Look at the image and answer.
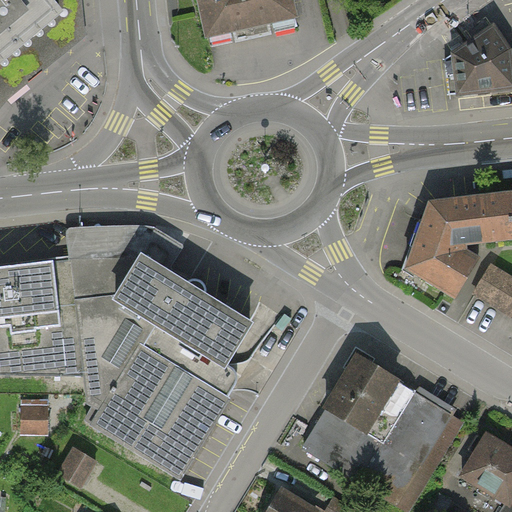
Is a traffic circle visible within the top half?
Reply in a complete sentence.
Yes, the scene does show a traffic circle within the top half.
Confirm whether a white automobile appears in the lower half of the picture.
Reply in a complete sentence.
Yes, there is a white automobile in the lower half of the picture.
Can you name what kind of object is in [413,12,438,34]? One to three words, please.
truck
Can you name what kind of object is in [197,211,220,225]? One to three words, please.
car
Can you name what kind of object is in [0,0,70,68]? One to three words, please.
building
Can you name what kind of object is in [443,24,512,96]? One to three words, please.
house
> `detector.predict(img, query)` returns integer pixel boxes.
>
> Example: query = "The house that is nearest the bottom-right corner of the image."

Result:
[459,432,512,510]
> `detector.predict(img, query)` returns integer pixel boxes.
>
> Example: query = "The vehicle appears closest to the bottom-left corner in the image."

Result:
[170,481,204,501]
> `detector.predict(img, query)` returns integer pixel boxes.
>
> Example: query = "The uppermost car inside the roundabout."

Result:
[210,122,232,139]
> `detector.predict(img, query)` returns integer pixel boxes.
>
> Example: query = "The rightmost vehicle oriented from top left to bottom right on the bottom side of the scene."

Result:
[307,462,328,480]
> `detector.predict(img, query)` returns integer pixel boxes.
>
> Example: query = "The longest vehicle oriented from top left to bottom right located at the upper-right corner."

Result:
[438,1,460,30]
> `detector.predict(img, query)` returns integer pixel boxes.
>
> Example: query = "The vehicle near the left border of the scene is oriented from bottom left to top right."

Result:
[2,126,19,148]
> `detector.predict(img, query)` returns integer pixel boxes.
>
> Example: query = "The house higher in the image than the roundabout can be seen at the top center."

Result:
[204,0,297,48]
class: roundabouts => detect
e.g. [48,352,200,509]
[185,94,345,246]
